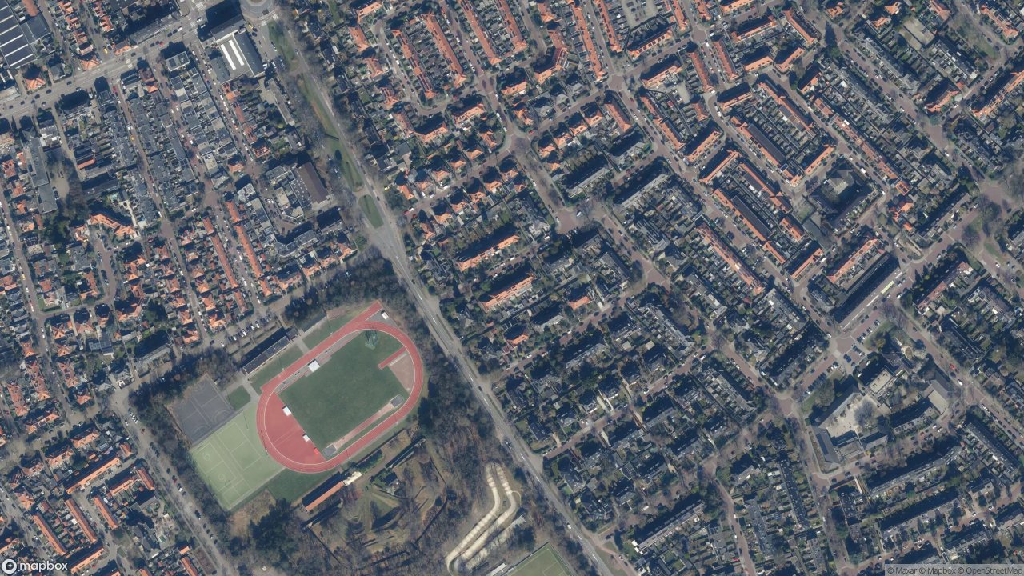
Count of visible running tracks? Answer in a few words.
1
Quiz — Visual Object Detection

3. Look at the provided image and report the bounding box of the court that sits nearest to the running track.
[171,375,235,446]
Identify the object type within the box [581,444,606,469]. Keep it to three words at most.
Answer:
house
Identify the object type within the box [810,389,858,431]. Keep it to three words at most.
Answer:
building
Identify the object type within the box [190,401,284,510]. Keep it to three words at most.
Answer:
sports field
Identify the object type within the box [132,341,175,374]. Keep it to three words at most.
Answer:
building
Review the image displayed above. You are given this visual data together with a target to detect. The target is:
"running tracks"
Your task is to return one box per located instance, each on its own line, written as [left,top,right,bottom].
[256,300,423,473]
